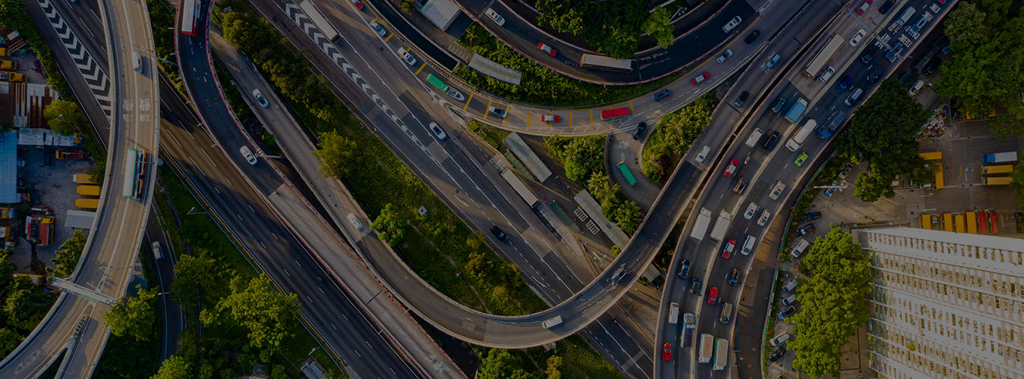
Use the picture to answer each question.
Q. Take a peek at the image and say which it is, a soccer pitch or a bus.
bus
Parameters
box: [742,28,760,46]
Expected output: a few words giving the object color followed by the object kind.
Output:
black car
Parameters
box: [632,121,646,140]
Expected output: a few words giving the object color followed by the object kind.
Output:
black car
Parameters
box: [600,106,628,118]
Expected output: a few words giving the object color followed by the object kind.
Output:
red vehicle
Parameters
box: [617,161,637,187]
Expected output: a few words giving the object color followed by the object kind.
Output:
green vehicle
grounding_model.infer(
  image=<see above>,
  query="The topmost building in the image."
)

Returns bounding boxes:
[420,0,461,34]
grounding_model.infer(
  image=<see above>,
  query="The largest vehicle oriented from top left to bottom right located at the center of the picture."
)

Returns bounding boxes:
[499,166,542,208]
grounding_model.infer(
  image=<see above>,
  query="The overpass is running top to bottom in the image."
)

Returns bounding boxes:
[0,0,161,379]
